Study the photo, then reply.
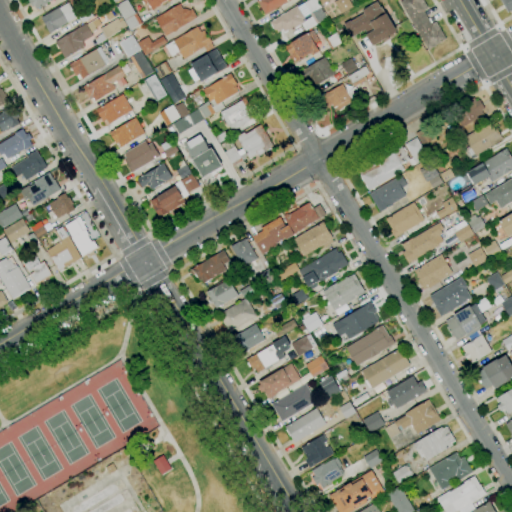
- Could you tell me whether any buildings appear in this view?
Yes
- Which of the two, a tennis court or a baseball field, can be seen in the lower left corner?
tennis court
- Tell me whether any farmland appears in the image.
No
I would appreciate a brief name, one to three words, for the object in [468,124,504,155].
house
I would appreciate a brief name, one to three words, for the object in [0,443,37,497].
tennis court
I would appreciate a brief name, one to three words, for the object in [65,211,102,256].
building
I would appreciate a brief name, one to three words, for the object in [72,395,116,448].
tennis court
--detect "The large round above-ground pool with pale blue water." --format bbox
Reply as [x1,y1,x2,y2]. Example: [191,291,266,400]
[450,176,466,192]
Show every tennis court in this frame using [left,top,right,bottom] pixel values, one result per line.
[98,379,142,432]
[72,395,116,448]
[0,443,37,497]
[18,427,64,480]
[45,411,90,464]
